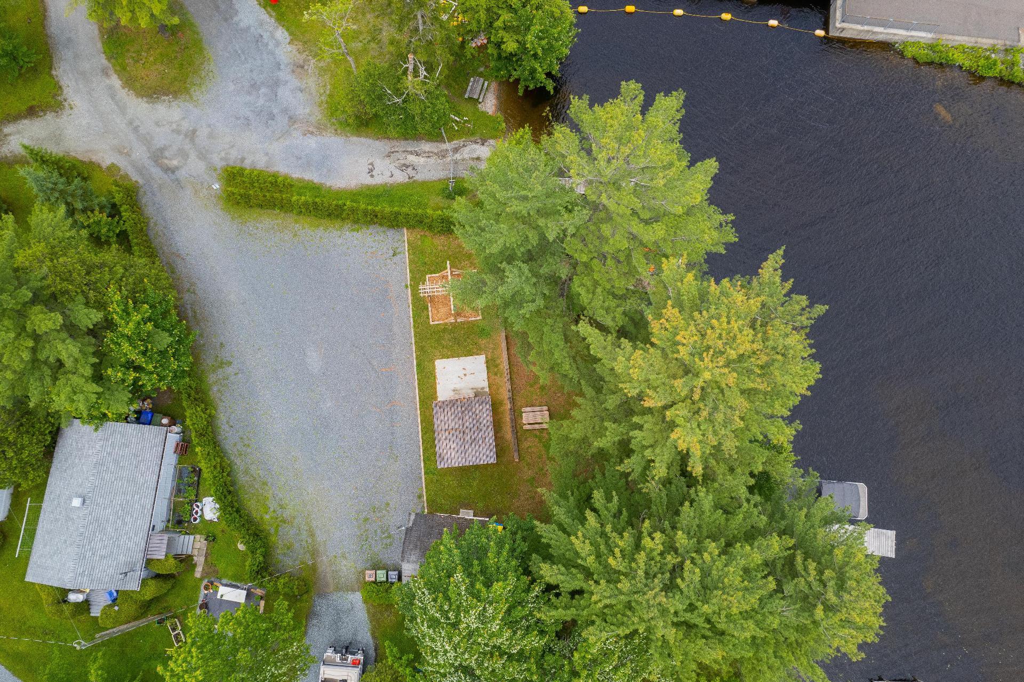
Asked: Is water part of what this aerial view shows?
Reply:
Yes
